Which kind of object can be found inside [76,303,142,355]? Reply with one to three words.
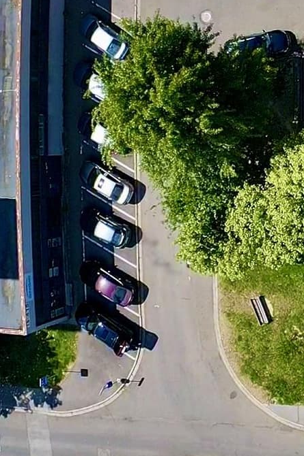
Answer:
car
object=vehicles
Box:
[76,63,128,108]
[79,15,137,61]
[76,303,142,355]
[79,111,129,157]
[82,209,140,251]
[231,27,298,58]
[85,264,144,309]
[81,162,142,206]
